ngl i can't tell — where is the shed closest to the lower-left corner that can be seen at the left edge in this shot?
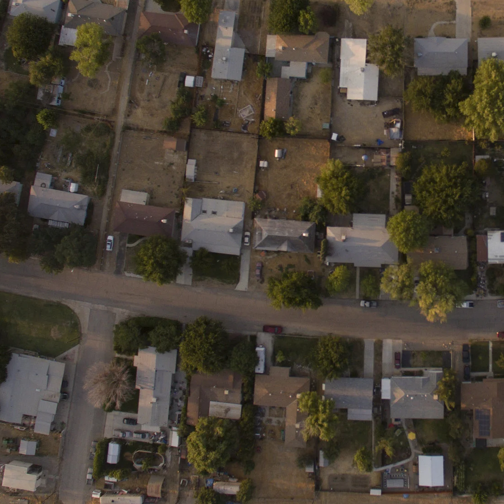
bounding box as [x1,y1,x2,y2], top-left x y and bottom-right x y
[3,458,47,491]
